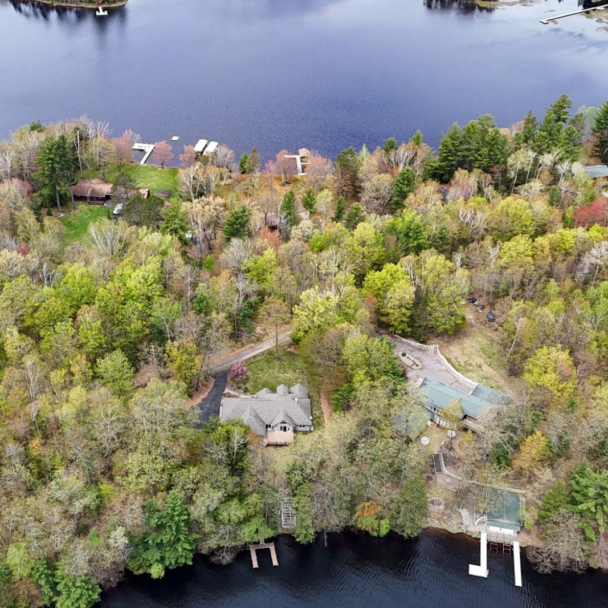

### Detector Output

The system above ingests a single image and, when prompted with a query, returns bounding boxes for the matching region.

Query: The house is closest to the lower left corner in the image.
[220,381,313,445]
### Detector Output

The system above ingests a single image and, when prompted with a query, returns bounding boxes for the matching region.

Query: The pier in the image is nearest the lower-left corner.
[249,538,278,569]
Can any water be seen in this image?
Yes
